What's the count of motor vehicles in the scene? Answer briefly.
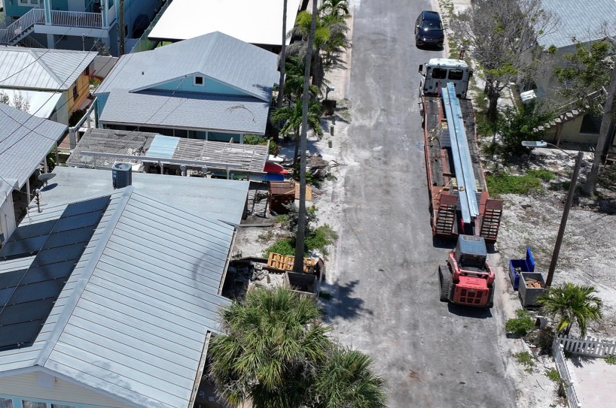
three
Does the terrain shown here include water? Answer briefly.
No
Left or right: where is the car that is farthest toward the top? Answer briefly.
right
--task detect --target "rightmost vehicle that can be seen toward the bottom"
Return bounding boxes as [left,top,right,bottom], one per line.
[436,228,494,303]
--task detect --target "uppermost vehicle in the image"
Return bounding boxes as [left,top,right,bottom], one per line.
[411,4,449,40]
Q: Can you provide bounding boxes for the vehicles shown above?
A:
[421,58,504,249]
[411,4,449,40]
[436,228,494,303]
